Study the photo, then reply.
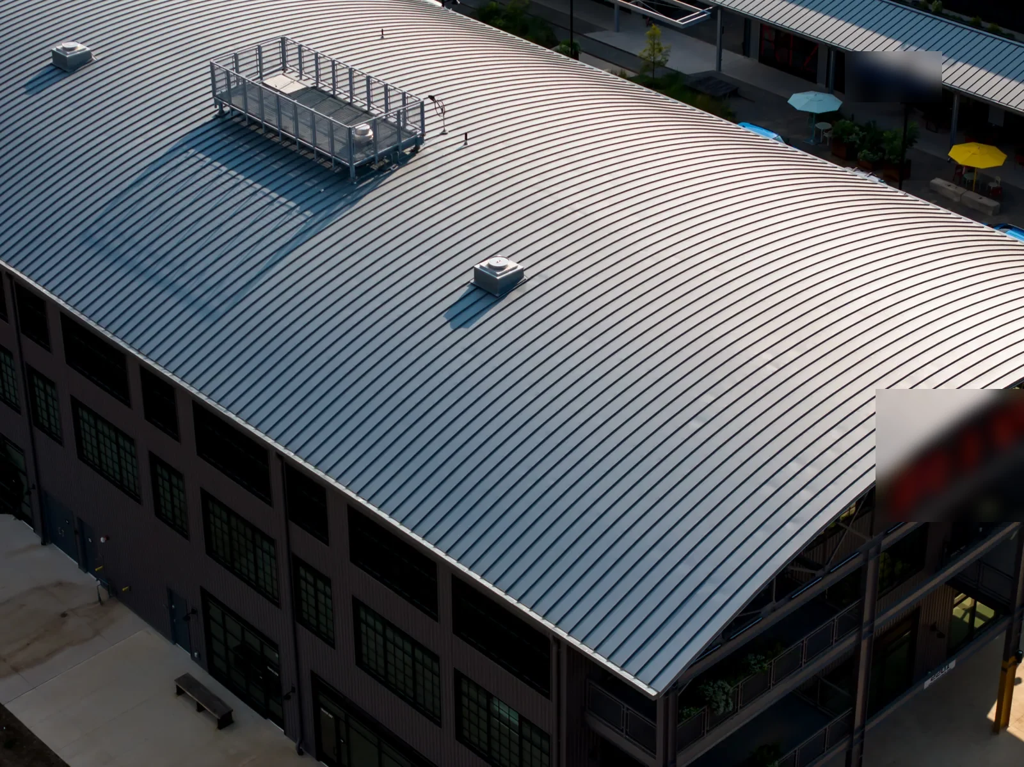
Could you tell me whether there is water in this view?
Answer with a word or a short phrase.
No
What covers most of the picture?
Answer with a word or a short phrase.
buildings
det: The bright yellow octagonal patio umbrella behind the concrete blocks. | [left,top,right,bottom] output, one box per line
[949,145,1007,196]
